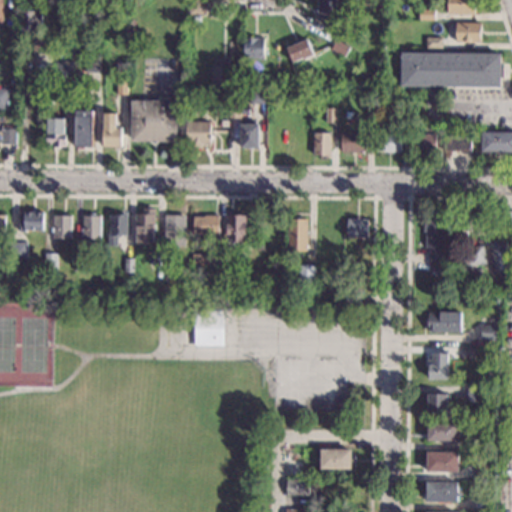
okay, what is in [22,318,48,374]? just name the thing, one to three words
tennis court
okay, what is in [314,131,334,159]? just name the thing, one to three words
house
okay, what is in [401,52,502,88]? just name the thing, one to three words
building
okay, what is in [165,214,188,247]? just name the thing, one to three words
house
